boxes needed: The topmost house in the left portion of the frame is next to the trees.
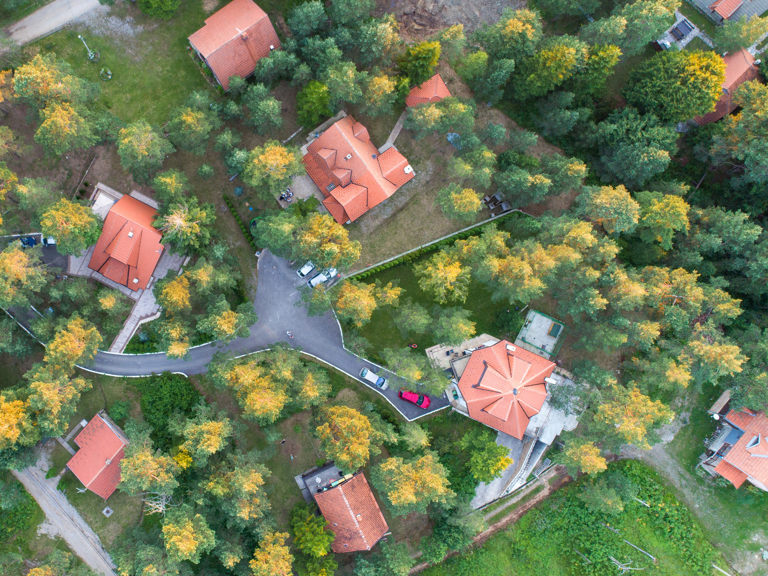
[188,0,278,91]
